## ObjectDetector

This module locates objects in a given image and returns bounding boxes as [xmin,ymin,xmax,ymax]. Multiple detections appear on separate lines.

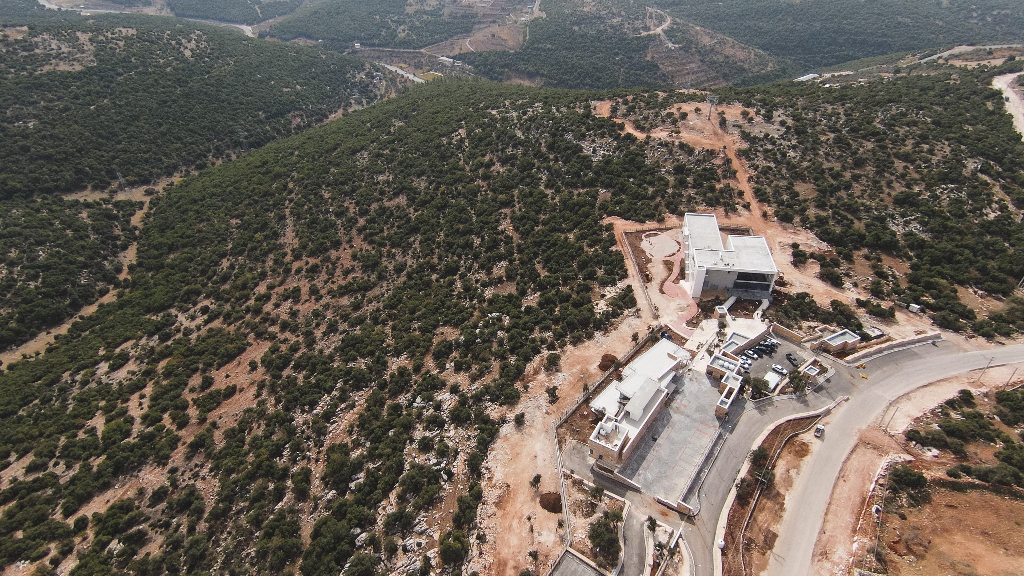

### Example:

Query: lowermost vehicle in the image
[813,422,827,439]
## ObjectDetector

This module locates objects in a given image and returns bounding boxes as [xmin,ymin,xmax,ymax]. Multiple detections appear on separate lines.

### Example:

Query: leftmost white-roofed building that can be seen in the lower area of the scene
[588,336,682,468]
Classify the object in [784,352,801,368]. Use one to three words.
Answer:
vehicle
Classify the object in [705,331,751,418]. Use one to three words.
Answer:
building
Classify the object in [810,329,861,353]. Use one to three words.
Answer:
house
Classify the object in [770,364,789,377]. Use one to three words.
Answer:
vehicle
